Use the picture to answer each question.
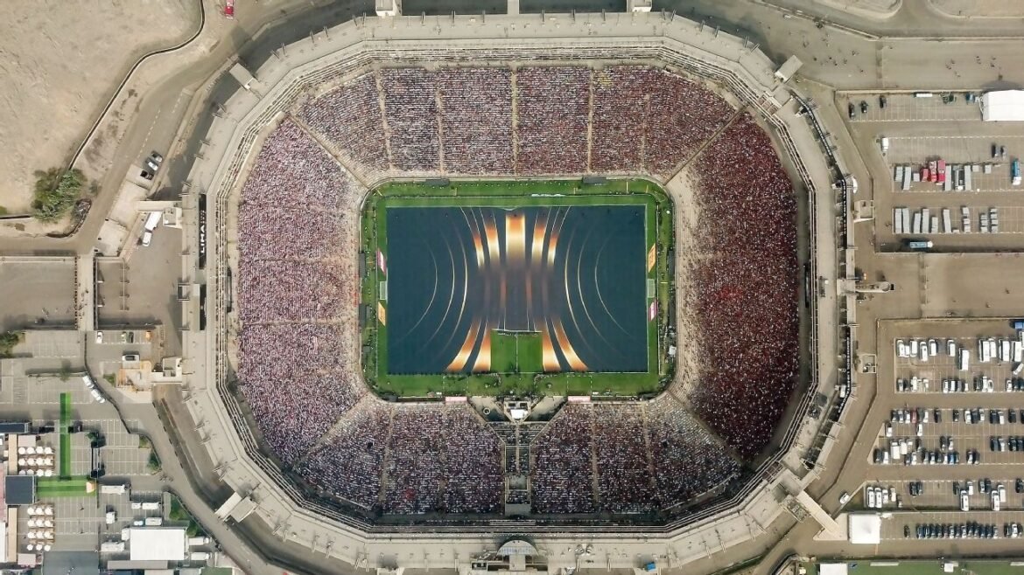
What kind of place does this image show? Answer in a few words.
sports ground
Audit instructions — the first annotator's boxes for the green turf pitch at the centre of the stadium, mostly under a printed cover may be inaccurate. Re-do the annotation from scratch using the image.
[361,179,674,401]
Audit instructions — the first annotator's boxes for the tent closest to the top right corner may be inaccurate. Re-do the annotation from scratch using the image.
[980,91,1024,122]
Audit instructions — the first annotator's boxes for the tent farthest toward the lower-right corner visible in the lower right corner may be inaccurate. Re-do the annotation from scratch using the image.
[847,513,881,544]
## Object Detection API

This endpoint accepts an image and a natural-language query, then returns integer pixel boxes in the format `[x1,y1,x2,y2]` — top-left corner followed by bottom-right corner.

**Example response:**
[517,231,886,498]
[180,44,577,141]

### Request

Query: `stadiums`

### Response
[162,0,879,575]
